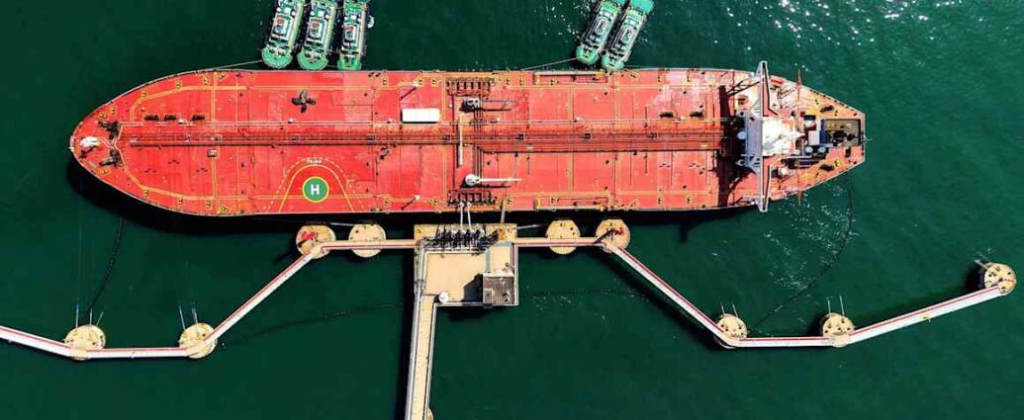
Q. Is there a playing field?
No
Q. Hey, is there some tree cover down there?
No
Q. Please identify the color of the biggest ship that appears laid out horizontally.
red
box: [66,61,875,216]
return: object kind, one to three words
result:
ship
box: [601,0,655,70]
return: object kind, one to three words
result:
boat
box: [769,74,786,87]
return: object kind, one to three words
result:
boat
